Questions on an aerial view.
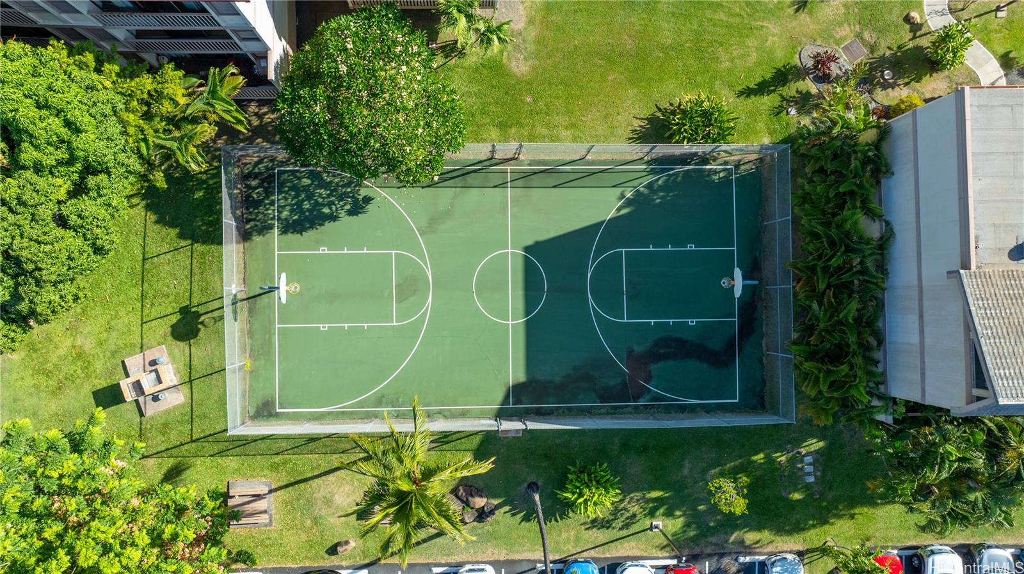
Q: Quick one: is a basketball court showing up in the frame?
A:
Yes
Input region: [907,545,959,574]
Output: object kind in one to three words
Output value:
car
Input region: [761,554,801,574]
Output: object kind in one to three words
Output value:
car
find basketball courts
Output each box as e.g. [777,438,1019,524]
[249,161,764,420]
